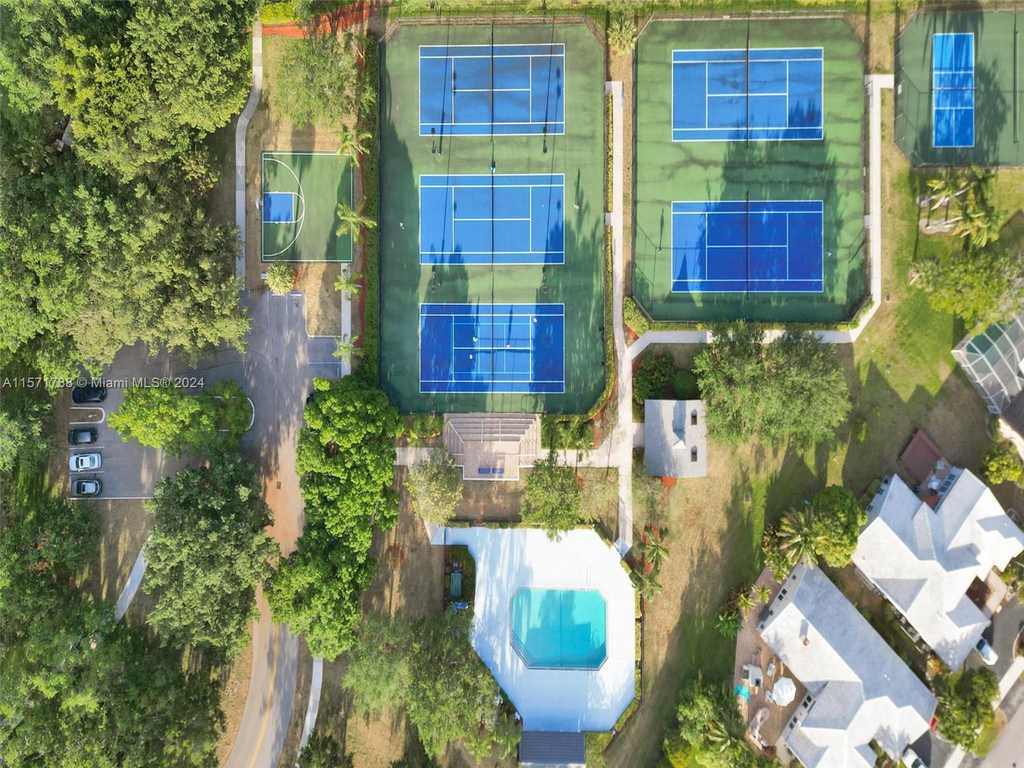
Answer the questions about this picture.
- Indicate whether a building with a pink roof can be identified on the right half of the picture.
No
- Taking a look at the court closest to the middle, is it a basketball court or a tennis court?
tennis court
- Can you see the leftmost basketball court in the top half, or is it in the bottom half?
top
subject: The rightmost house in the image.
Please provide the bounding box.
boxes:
[992,387,1024,456]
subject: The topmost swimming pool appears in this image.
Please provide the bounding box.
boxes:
[965,313,1018,357]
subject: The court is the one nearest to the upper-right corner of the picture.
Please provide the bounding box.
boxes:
[895,11,1024,166]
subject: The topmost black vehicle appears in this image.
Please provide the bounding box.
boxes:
[72,387,107,404]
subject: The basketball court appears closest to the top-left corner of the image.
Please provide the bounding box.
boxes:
[261,151,353,262]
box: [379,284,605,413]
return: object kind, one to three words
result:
tennis court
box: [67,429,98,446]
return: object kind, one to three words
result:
car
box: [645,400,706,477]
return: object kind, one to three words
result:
building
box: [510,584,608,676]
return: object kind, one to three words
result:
swimming pool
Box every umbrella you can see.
[772,679,795,702]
